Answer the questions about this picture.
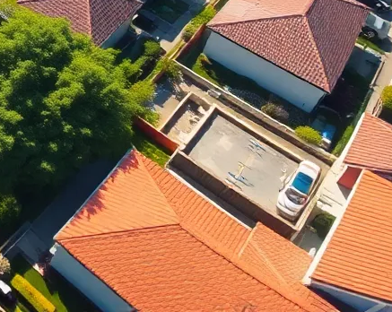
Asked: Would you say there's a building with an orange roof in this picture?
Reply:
Yes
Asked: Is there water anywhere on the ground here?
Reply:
No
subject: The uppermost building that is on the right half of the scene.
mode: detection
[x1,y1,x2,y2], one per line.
[200,0,374,111]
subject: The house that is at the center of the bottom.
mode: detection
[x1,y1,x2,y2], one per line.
[47,146,326,312]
